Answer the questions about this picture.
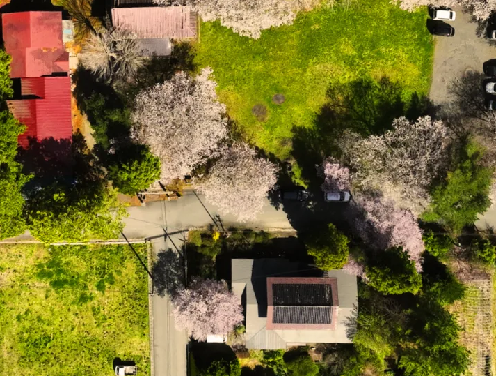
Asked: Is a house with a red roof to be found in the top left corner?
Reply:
Yes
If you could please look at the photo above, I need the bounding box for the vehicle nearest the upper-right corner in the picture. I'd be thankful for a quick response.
[481,25,496,38]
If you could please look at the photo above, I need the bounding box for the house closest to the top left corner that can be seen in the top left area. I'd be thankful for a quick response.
[2,12,77,77]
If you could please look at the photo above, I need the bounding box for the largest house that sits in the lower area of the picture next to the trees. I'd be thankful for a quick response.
[231,257,358,350]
